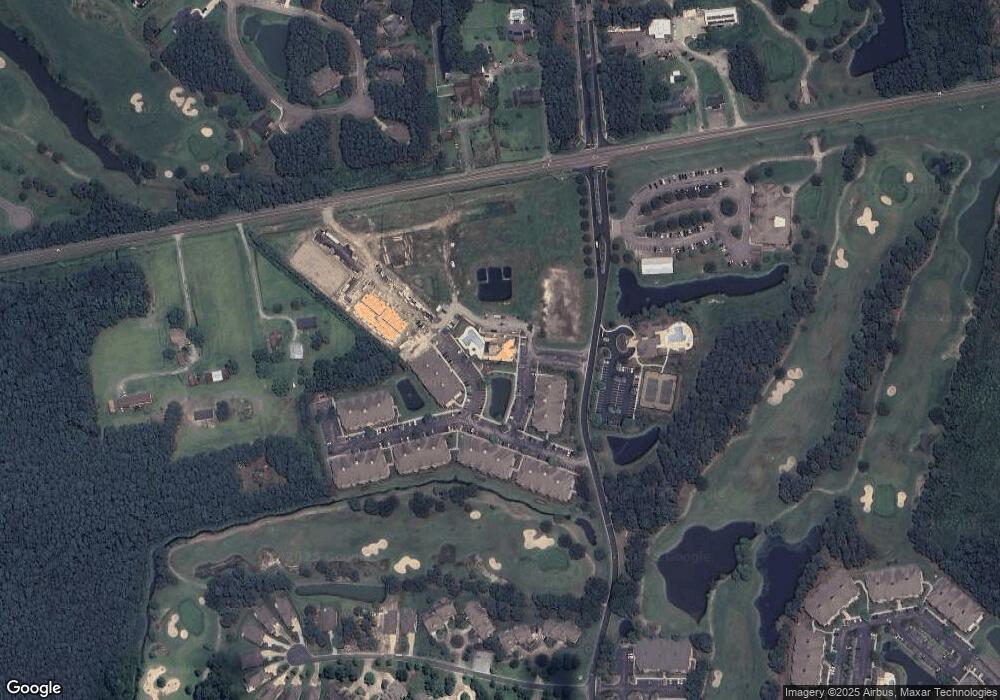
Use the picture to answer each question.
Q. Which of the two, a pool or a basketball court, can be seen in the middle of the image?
pool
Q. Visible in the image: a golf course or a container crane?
golf course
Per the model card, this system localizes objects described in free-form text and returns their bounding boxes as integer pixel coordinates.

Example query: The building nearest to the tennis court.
[642,322,663,356]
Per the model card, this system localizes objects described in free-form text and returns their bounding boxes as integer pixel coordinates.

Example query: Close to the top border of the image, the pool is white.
[509,9,524,23]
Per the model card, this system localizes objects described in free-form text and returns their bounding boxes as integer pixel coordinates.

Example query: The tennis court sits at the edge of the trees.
[641,372,678,410]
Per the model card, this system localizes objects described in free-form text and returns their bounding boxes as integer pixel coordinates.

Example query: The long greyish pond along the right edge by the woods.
[957,170,1000,293]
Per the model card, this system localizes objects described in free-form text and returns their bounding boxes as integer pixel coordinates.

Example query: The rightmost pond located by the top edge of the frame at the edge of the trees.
[850,0,907,77]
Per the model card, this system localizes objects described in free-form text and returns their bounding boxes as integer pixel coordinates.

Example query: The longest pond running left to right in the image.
[617,265,789,316]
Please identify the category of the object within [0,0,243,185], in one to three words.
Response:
golf course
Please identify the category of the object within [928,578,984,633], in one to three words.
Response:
building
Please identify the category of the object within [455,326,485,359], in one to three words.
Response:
swimming pool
